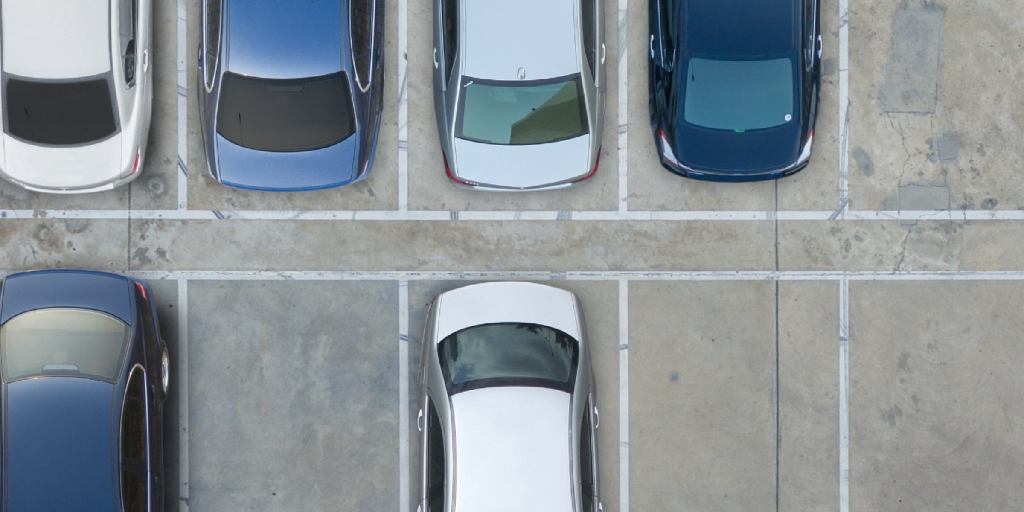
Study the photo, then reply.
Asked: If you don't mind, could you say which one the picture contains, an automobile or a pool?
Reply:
automobile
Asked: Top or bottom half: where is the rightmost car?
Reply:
top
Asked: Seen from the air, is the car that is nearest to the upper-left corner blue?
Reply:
No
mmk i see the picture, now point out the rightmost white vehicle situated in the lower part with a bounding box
[420,281,600,512]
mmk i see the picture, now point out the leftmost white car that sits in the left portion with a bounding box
[0,0,155,194]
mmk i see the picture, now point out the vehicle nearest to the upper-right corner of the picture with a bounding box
[648,0,822,182]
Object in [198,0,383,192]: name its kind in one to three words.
car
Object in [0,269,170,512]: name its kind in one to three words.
car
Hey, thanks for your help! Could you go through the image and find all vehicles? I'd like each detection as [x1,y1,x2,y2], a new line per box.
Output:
[0,269,170,512]
[420,281,600,512]
[433,0,603,192]
[648,0,822,182]
[0,0,155,194]
[198,0,383,192]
